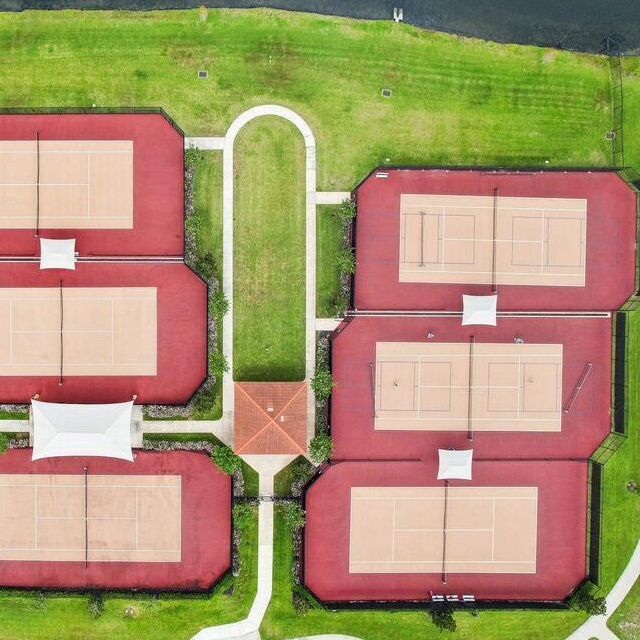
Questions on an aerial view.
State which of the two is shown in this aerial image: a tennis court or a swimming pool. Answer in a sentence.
This aerial view contains a tennis court.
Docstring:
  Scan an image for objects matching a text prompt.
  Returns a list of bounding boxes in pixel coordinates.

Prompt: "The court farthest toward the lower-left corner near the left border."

[0,449,232,589]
